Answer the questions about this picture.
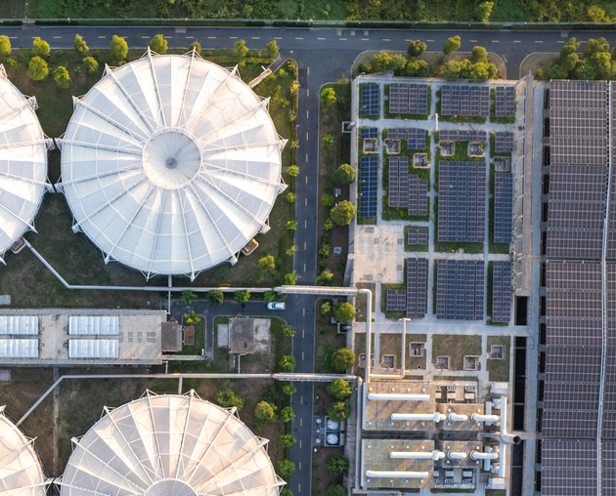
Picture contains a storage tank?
Yes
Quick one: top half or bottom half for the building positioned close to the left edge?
bottom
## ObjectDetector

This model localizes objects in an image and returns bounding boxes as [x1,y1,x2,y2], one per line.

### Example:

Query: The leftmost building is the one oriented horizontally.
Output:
[0,309,182,364]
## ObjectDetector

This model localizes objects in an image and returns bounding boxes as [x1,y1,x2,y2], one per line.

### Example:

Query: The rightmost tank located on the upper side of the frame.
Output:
[57,48,289,282]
